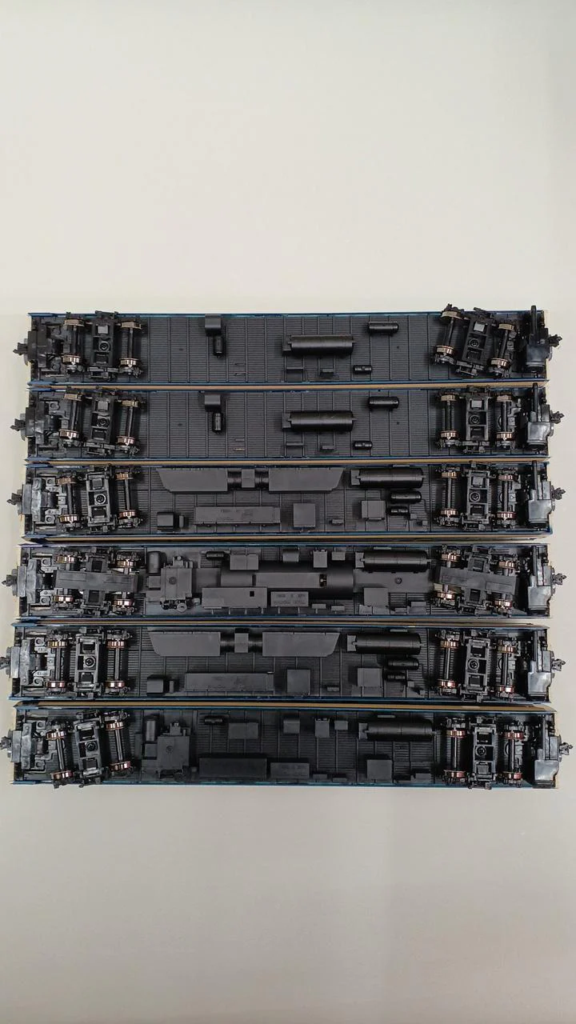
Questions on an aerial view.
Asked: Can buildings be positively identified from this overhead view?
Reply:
No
